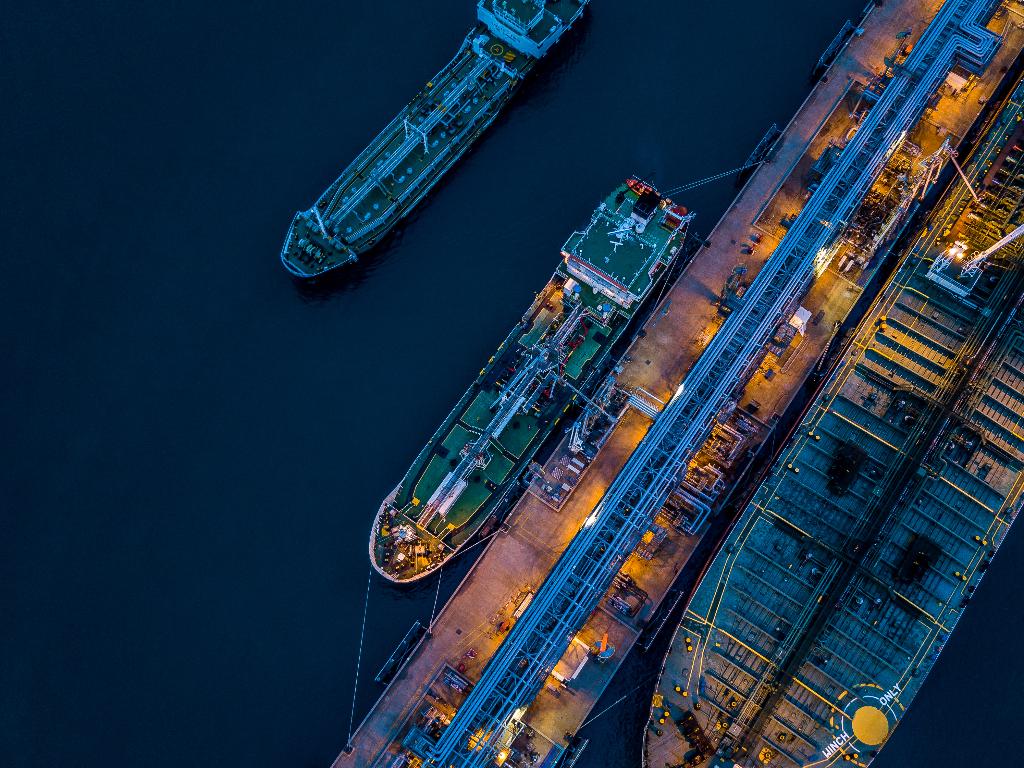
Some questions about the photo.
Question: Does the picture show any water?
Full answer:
Yes, some water is visible.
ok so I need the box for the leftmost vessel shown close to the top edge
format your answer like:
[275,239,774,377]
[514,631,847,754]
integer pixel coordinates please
[283,0,598,283]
